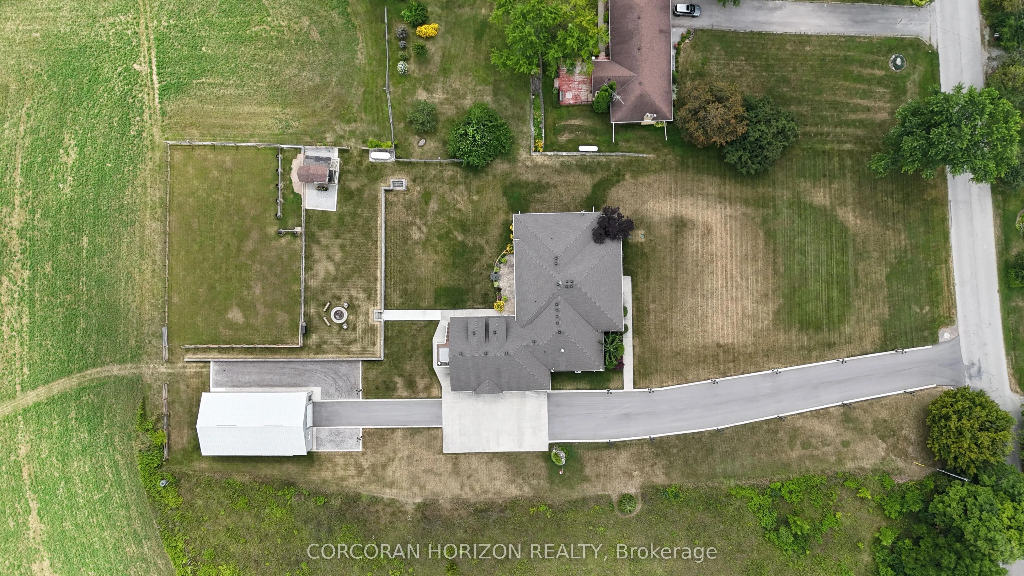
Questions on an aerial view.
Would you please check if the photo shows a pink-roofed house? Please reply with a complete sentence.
No, the photo shows no pink-roofed house.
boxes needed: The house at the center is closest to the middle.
[448,207,624,395]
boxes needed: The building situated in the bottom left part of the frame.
[198,390,314,457]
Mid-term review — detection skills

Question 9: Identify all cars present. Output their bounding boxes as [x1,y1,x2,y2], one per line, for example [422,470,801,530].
[672,3,701,18]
